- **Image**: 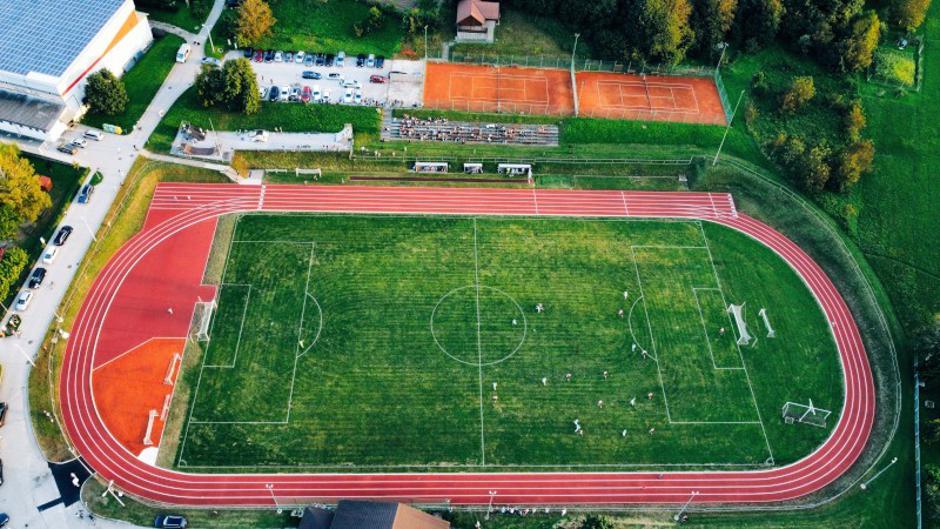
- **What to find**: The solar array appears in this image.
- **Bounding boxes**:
[0,0,124,81]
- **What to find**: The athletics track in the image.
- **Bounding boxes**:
[60,182,876,506]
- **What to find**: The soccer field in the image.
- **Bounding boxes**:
[154,210,845,473]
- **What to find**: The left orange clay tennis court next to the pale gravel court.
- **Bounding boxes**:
[424,63,576,115]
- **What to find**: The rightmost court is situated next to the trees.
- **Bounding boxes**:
[576,71,727,124]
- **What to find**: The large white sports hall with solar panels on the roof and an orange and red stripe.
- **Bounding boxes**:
[0,0,155,155]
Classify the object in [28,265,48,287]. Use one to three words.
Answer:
car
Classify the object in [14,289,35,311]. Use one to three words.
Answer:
car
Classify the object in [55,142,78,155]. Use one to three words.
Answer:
vehicle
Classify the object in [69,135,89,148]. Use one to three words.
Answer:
vehicle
